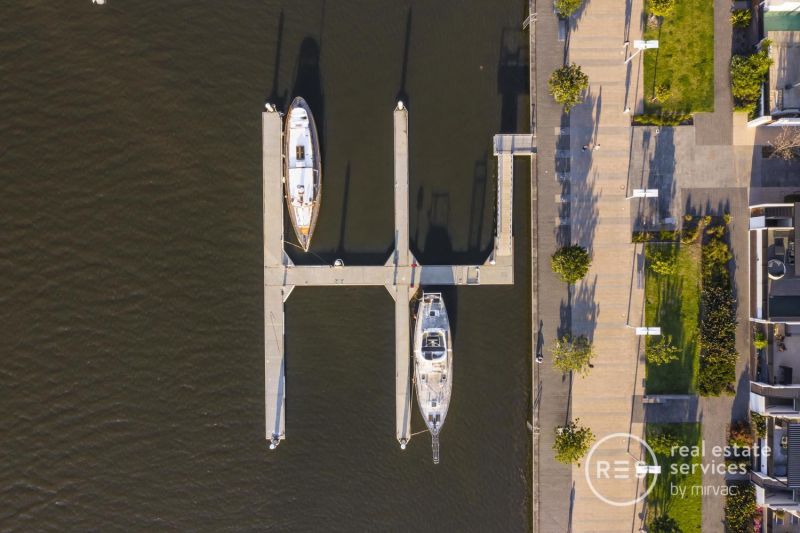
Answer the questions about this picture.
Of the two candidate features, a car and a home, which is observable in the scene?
home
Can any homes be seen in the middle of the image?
No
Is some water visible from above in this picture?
Yes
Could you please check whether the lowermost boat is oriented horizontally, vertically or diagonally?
vertically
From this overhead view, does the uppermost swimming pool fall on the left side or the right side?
right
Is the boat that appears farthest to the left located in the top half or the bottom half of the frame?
top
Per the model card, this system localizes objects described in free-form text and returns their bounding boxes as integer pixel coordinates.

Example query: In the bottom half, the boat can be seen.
[413,292,454,465]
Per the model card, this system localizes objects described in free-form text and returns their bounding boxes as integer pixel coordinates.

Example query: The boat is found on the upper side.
[283,95,322,250]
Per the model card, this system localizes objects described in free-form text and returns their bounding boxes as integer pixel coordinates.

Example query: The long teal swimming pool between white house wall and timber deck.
[764,11,800,32]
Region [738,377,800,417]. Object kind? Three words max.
building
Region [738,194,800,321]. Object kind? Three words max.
house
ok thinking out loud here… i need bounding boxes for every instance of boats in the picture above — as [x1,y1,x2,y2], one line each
[413,292,454,465]
[283,95,322,250]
